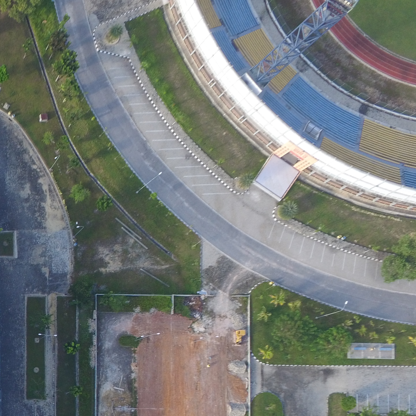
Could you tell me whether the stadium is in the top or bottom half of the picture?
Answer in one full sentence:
The stadium is in the top half of the image.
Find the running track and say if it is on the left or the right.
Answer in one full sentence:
The running track sits on the right side.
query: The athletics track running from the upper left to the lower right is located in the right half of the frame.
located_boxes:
[307,0,416,88]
